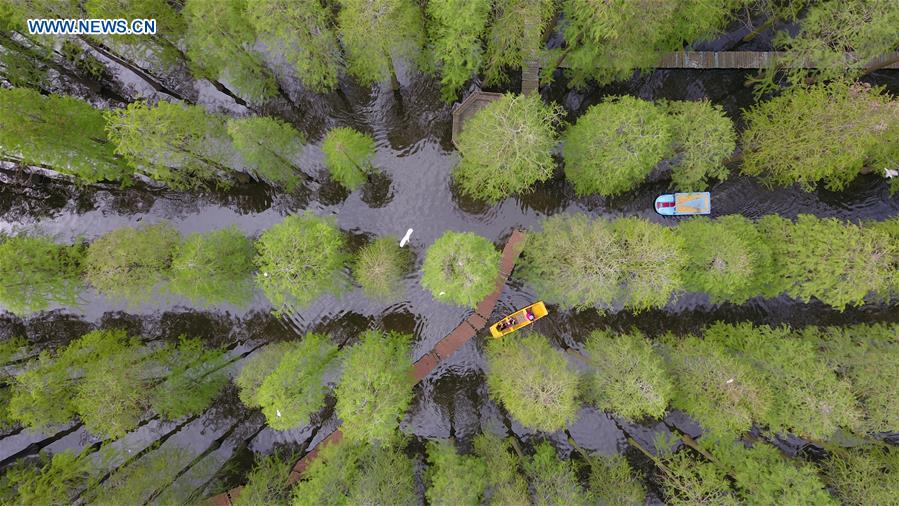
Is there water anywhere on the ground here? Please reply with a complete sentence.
Yes, there is water in the image.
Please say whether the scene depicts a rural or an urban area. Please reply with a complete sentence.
It looks rural.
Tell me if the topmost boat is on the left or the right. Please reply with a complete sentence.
The topmost boat sits on the right side.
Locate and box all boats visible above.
[490,301,549,338]
[654,192,711,216]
